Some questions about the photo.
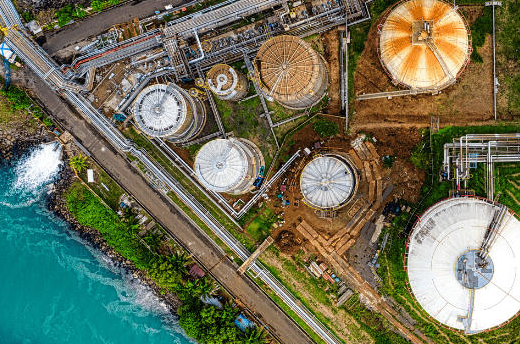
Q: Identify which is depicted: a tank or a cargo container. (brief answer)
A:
tank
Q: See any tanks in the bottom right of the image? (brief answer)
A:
Yes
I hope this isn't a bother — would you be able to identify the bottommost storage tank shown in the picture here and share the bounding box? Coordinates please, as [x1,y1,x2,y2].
[403,188,520,336]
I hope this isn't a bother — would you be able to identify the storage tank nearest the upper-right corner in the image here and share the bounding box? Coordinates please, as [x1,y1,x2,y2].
[358,0,473,100]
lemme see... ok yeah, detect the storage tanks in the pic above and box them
[358,0,473,100]
[205,62,252,103]
[300,151,362,216]
[128,81,207,143]
[191,136,264,195]
[403,188,520,336]
[249,34,330,111]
